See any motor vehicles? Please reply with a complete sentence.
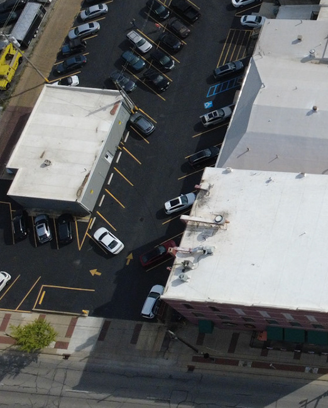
Yes, I can see a motor vehicle in this picture.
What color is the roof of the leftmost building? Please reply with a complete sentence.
The color of the roof on the leftmost building is white.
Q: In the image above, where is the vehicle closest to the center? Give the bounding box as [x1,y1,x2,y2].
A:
[162,191,196,215]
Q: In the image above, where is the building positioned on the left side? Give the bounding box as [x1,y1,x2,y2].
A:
[6,85,133,213]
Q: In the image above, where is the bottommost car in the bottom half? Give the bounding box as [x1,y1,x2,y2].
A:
[136,282,165,318]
